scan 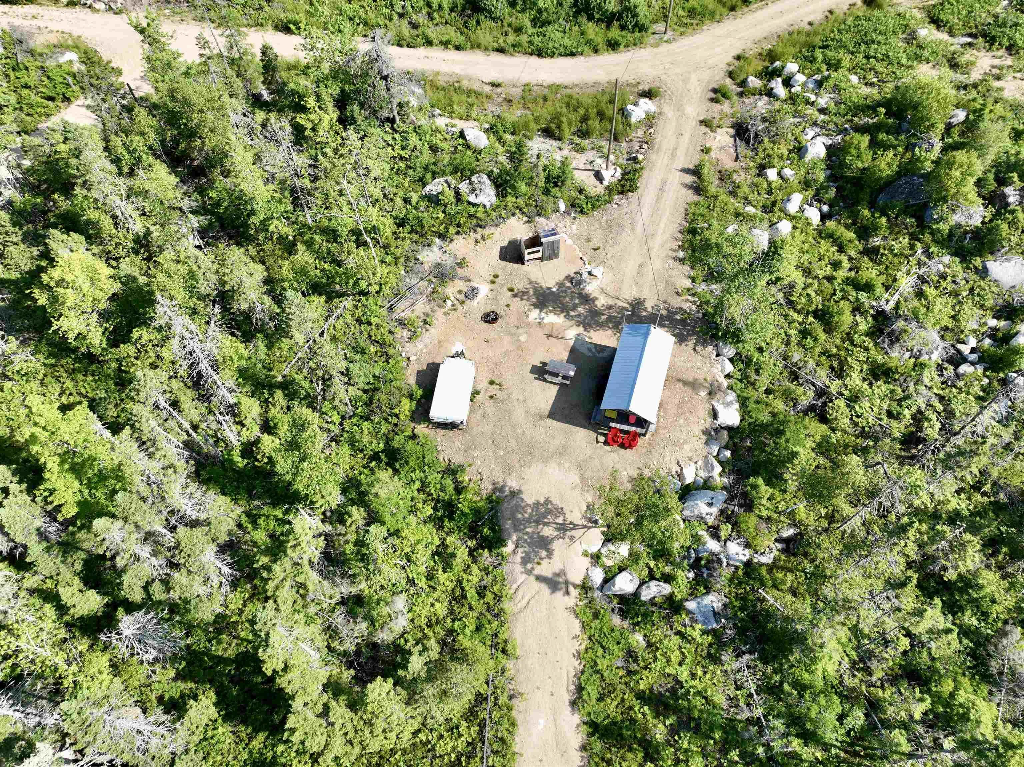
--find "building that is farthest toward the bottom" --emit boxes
[590,324,676,439]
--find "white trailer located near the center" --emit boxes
[428,349,478,431]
